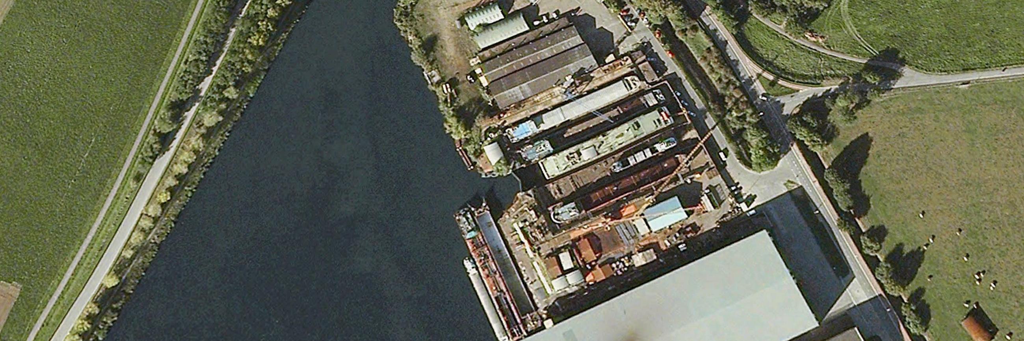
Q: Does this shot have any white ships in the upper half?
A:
Yes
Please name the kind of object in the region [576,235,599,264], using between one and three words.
shed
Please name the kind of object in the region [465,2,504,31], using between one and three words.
building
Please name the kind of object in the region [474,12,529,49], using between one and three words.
building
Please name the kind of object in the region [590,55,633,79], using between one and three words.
ship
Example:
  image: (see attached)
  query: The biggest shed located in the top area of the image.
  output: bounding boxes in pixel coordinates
[478,24,595,110]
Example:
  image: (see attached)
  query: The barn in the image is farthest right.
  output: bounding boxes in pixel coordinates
[962,309,997,341]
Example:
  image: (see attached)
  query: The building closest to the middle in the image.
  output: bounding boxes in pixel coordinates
[483,141,506,167]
